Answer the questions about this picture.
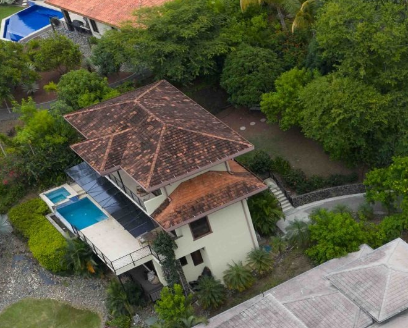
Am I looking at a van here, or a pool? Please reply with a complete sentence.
It is a pool that can be seen here.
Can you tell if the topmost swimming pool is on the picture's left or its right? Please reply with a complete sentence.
The topmost swimming pool sits on the left side.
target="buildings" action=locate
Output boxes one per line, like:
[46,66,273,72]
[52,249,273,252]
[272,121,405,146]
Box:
[37,78,269,280]
[0,0,190,52]
[189,236,408,328]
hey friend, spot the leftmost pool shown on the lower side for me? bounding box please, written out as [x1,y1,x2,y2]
[43,188,80,213]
